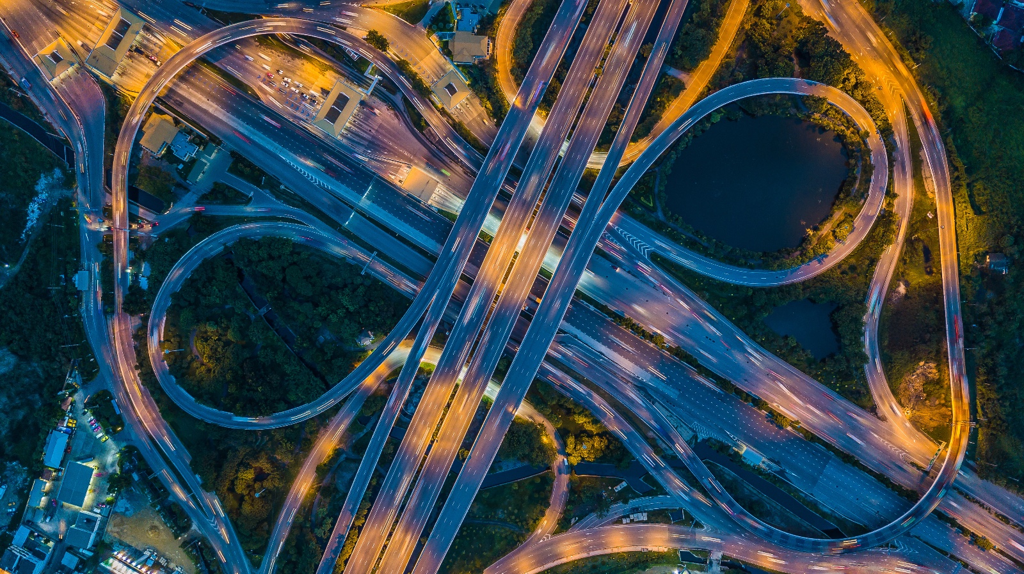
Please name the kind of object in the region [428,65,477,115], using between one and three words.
toll station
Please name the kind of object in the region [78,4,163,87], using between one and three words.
toll station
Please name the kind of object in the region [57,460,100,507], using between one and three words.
shed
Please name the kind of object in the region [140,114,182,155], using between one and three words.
building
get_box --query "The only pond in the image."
[767,299,839,359]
